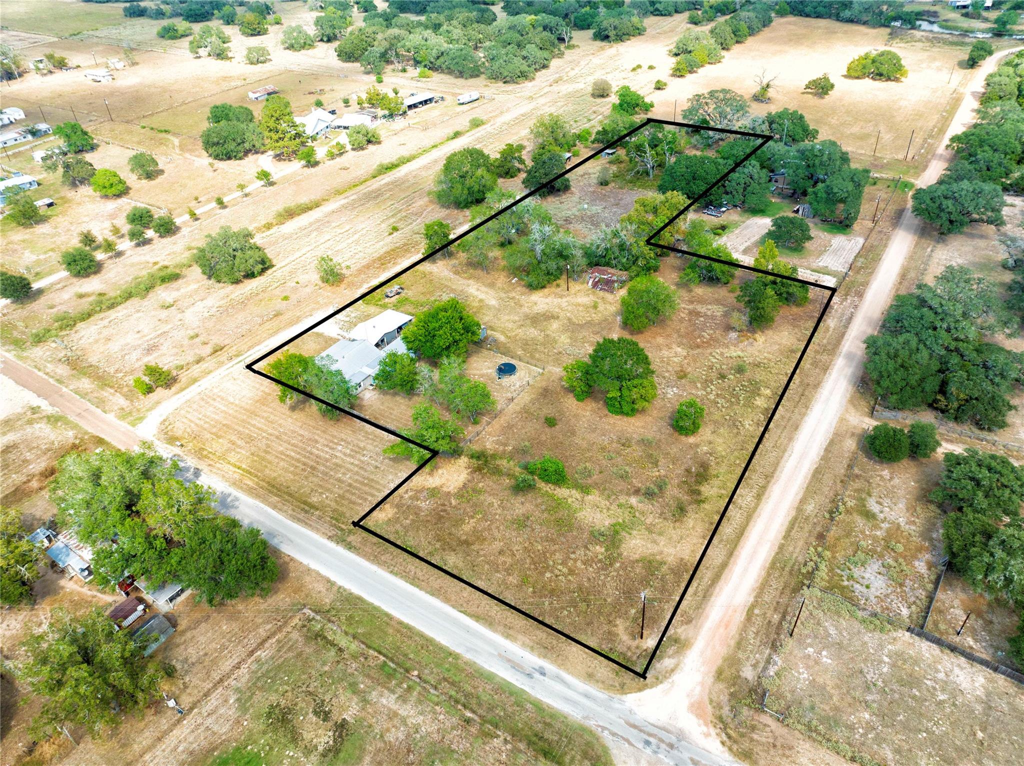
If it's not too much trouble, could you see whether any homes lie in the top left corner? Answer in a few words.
Yes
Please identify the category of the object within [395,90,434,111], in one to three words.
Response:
building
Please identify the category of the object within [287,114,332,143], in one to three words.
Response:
house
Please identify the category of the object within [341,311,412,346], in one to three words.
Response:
building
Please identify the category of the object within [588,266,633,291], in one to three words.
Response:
shed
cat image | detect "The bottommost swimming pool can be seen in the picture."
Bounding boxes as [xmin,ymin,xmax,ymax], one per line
[495,359,517,376]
